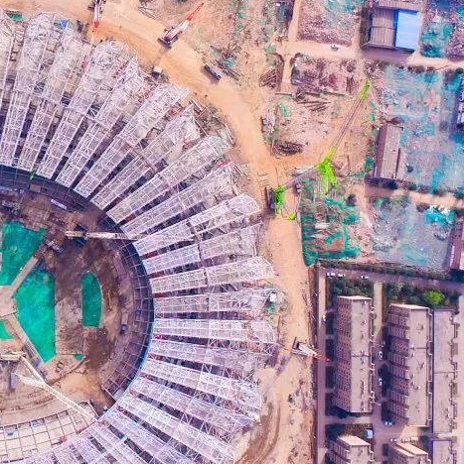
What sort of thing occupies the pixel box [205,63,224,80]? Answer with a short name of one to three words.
vehicle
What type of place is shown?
sports ground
